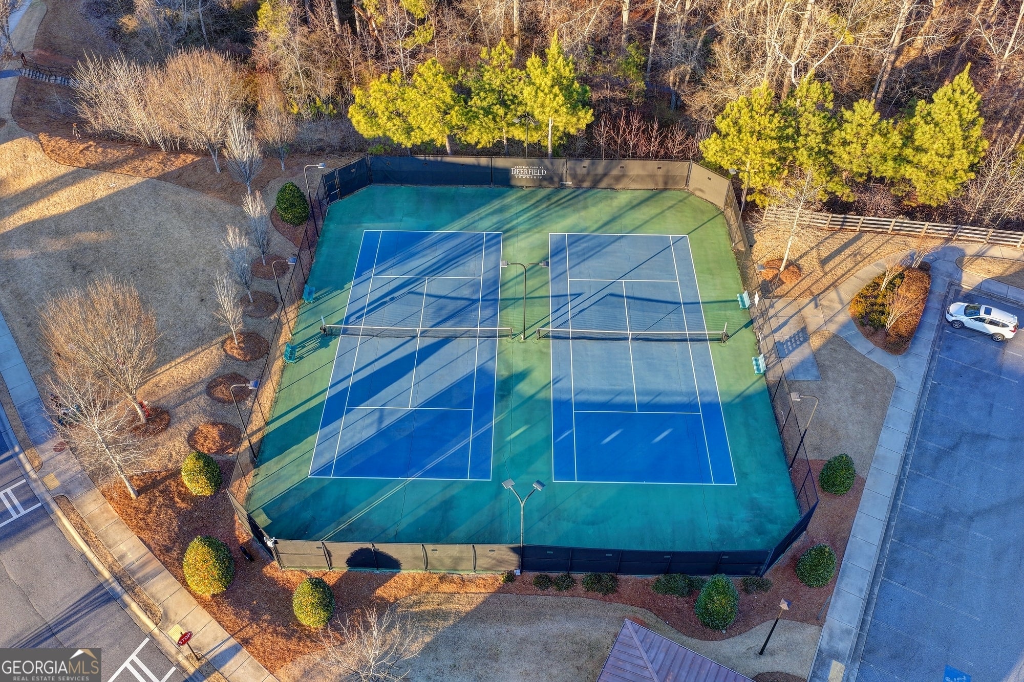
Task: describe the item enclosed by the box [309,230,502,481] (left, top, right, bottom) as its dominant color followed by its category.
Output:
blue tennis court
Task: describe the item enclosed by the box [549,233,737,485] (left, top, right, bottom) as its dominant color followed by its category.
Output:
blue tennis court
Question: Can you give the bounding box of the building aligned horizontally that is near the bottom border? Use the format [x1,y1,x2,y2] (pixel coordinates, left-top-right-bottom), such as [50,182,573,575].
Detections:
[595,617,756,682]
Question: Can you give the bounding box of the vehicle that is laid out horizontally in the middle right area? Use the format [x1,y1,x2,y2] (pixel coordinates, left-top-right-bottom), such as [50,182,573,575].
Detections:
[945,302,1021,342]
